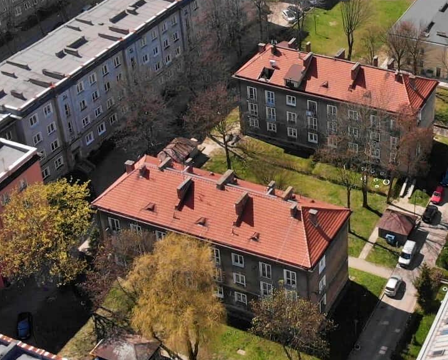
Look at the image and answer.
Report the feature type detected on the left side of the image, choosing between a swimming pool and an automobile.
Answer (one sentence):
Visible on the left side of the image is an automobile.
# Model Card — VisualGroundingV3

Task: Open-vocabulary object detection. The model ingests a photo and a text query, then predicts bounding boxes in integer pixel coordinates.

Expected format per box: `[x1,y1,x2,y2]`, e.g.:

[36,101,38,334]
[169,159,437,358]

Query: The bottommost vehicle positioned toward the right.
[384,273,404,301]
